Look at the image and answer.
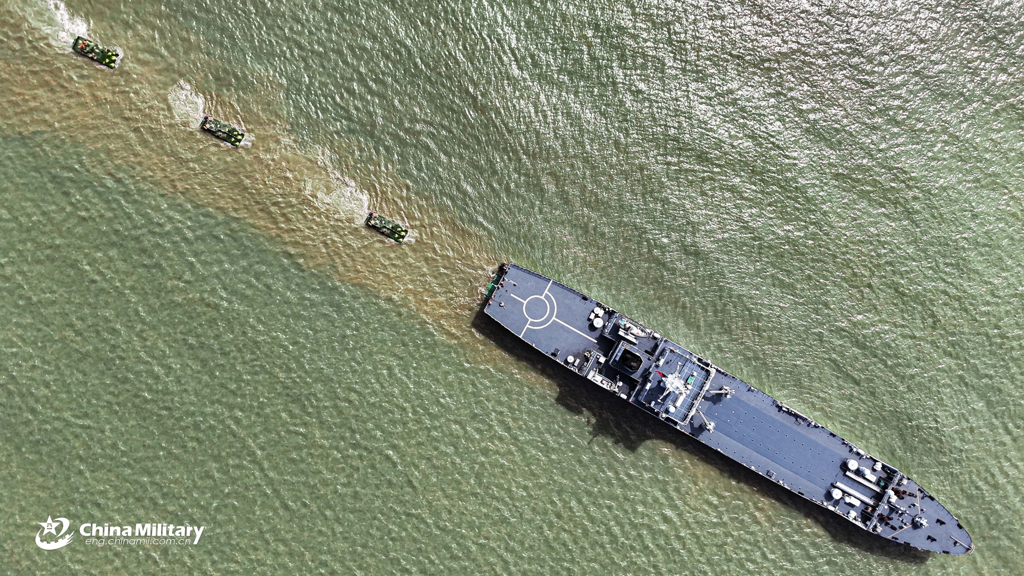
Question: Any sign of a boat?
Yes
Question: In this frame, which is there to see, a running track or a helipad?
helipad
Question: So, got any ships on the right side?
Yes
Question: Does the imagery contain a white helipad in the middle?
Yes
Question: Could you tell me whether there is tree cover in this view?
No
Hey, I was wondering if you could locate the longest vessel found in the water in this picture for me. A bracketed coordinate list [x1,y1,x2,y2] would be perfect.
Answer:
[485,263,975,555]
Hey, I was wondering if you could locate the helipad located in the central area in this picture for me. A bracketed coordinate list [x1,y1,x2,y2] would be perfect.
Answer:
[510,280,597,342]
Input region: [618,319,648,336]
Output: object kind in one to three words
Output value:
boat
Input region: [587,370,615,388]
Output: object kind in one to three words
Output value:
boat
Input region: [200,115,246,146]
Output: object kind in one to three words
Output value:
vehicle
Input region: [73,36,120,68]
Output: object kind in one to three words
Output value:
vehicle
